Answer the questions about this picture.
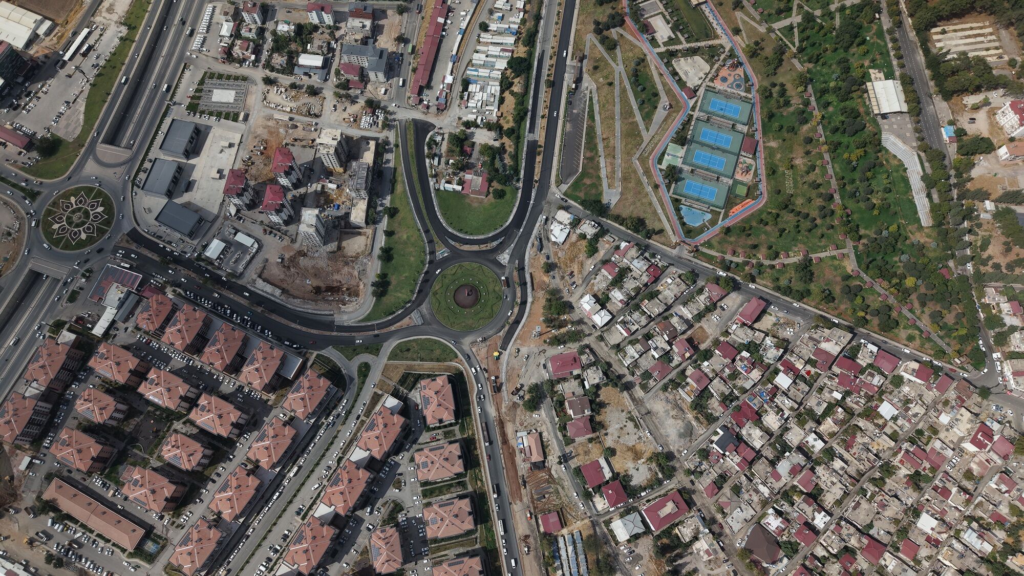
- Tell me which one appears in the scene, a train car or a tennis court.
tennis court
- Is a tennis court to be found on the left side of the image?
No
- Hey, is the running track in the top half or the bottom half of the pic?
top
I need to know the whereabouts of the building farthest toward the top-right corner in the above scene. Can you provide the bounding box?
[986,97,1024,139]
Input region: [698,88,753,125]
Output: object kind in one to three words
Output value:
tennis court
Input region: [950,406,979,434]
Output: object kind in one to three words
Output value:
house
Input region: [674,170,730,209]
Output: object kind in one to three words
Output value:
tennis court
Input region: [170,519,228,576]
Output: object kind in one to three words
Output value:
building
